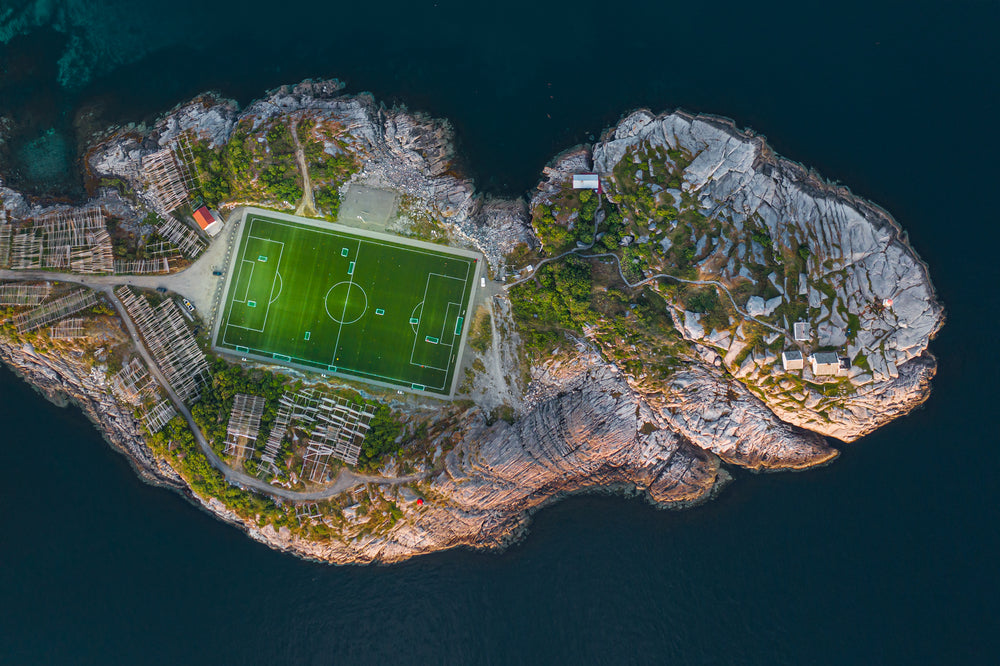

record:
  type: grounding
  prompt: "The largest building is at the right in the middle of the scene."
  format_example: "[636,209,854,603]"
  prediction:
[808,353,850,375]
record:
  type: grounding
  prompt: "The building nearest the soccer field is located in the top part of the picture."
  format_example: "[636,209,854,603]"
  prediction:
[194,207,218,229]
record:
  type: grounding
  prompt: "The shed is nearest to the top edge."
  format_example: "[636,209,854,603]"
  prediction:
[573,175,602,194]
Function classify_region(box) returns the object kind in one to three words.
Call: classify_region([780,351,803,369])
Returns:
house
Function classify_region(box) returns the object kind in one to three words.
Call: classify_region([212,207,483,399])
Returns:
soccer field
